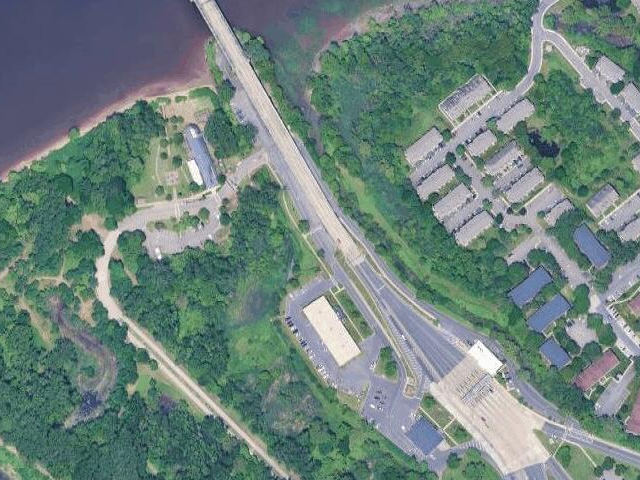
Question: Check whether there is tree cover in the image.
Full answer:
Yes, there's tree cover in this view.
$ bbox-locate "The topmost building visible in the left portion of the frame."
[184,122,220,189]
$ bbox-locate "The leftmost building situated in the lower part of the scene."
[303,296,361,367]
